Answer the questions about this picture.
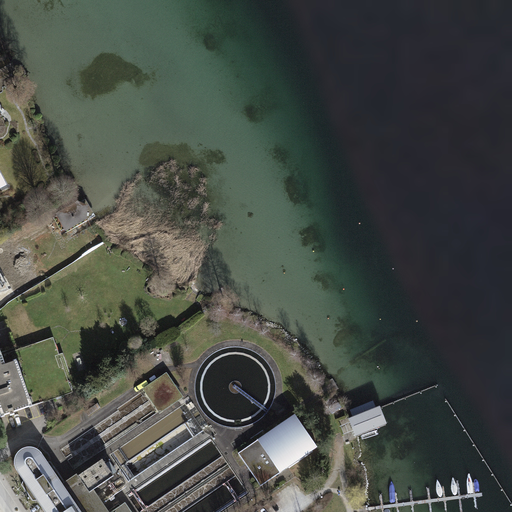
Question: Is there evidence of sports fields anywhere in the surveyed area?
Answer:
No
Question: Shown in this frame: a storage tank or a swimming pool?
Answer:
storage tank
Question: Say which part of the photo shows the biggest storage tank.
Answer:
bottom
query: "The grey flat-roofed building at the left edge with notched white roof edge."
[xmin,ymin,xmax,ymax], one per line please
[0,358,30,414]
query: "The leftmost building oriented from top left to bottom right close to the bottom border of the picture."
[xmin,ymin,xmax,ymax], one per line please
[12,447,82,512]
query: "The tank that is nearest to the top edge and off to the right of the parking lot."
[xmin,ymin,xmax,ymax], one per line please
[195,347,276,428]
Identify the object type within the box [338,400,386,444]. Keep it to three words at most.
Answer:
building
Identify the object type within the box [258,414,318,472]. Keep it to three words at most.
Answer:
building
